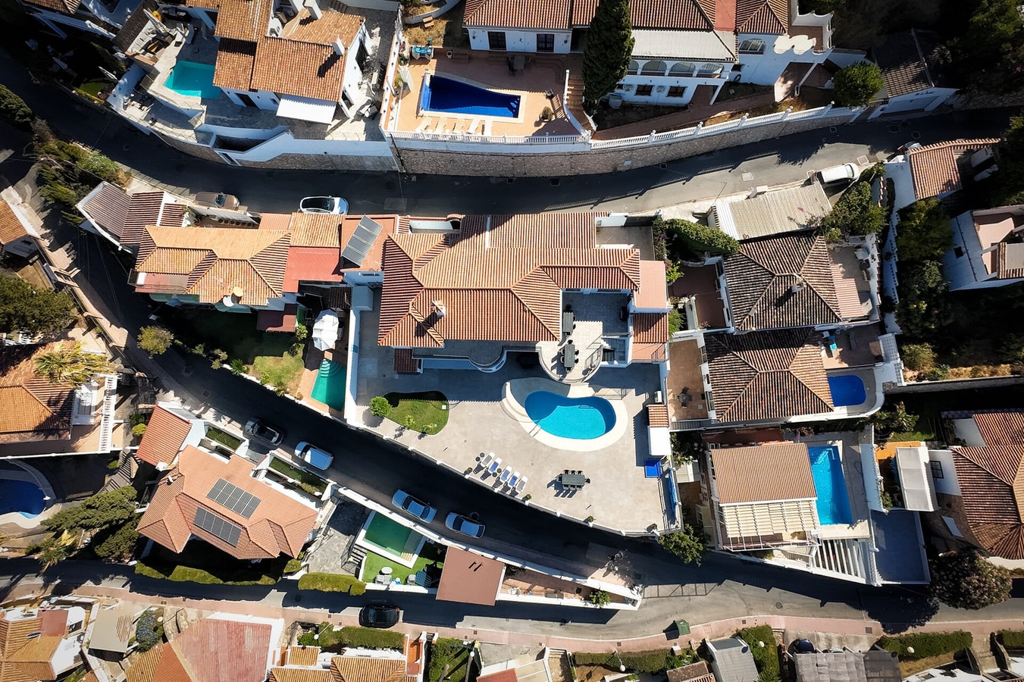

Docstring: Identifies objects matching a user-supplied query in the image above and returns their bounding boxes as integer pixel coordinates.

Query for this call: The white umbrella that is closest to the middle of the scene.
[315,312,341,350]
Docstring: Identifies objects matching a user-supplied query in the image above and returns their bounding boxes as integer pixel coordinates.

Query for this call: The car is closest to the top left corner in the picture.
[193,189,242,212]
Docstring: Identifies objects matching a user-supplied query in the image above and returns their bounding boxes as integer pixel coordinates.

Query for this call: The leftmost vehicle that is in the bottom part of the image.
[243,416,287,451]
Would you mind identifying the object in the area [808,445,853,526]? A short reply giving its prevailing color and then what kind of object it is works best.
blue swimming pool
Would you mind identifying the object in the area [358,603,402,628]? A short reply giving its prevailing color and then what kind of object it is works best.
black car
